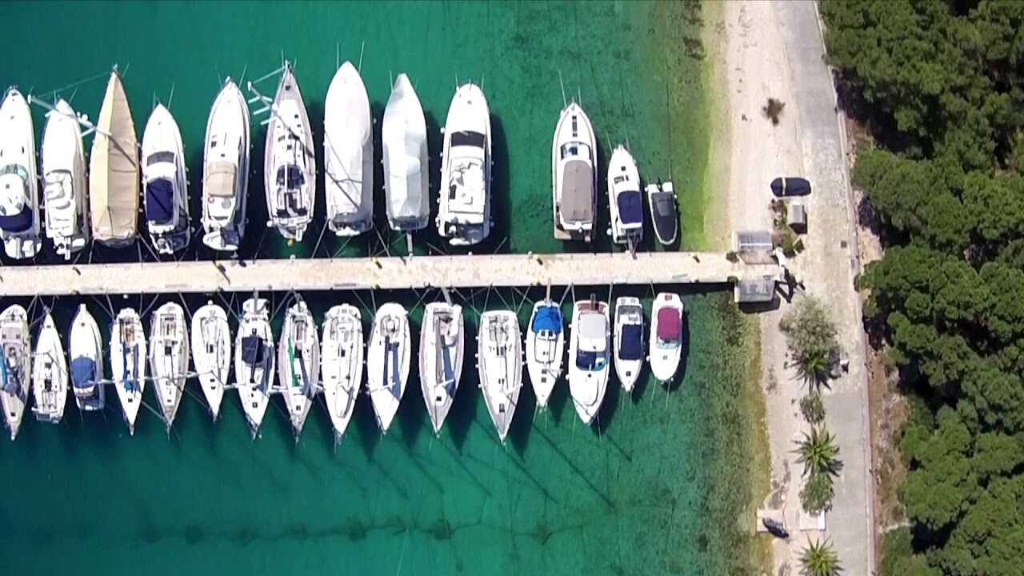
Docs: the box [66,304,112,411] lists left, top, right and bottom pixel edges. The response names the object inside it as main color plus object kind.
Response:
white boat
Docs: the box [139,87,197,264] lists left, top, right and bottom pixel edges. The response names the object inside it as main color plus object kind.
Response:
white boat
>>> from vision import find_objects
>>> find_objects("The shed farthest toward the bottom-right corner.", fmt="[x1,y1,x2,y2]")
[726,278,774,304]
